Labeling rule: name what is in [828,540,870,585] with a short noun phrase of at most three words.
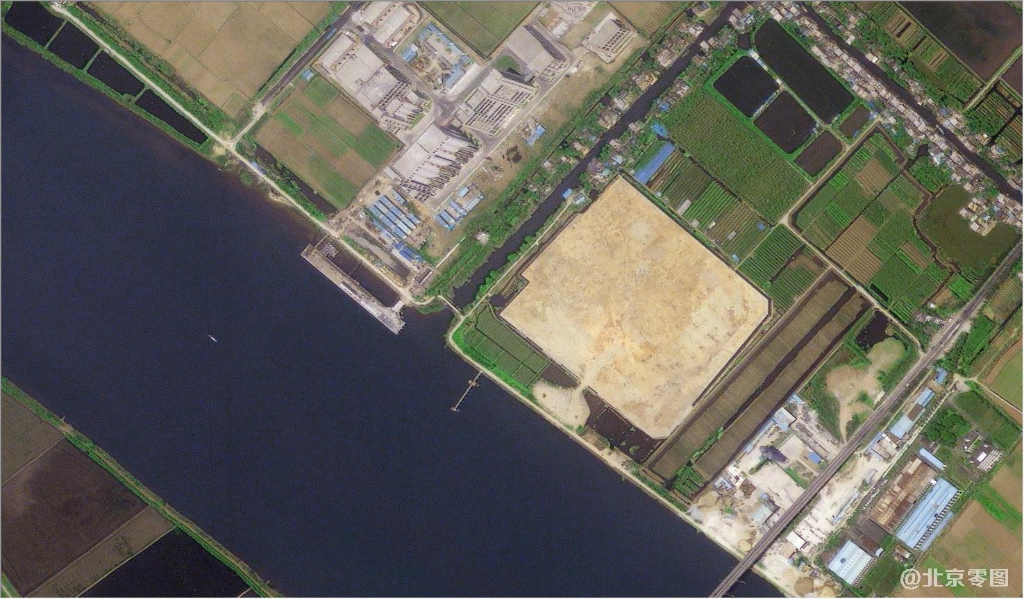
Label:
shed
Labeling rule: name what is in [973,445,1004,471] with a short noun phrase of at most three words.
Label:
house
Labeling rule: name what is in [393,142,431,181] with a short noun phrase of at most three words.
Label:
building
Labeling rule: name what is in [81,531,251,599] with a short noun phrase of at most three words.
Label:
pond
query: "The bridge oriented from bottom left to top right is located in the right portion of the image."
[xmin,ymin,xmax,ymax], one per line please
[709,434,859,599]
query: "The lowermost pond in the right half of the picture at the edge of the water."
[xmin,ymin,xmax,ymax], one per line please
[650,271,873,505]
